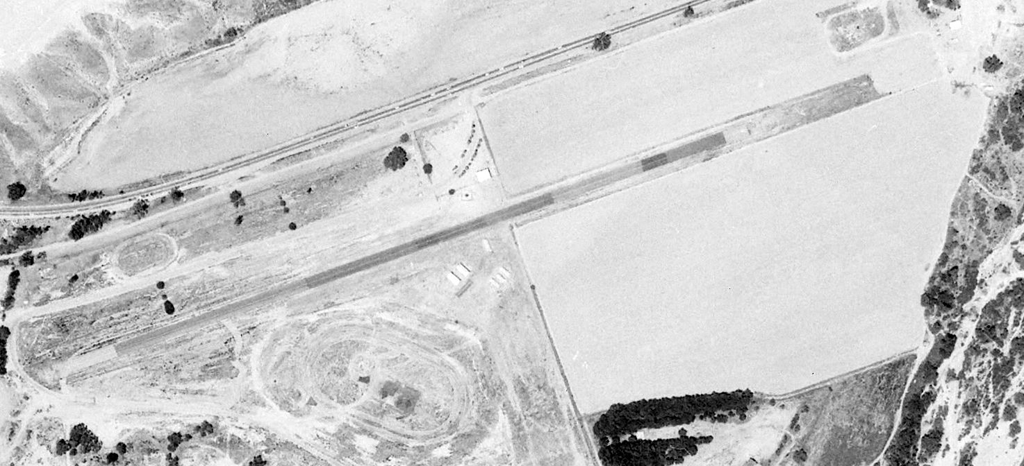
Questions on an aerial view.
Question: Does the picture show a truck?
No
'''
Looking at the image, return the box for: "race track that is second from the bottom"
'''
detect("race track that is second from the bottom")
[115,233,180,276]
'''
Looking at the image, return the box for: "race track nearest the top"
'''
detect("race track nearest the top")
[823,2,891,57]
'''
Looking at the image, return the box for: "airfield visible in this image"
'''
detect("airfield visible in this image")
[67,75,889,383]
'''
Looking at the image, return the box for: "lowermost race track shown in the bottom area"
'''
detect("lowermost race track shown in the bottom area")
[304,323,467,446]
